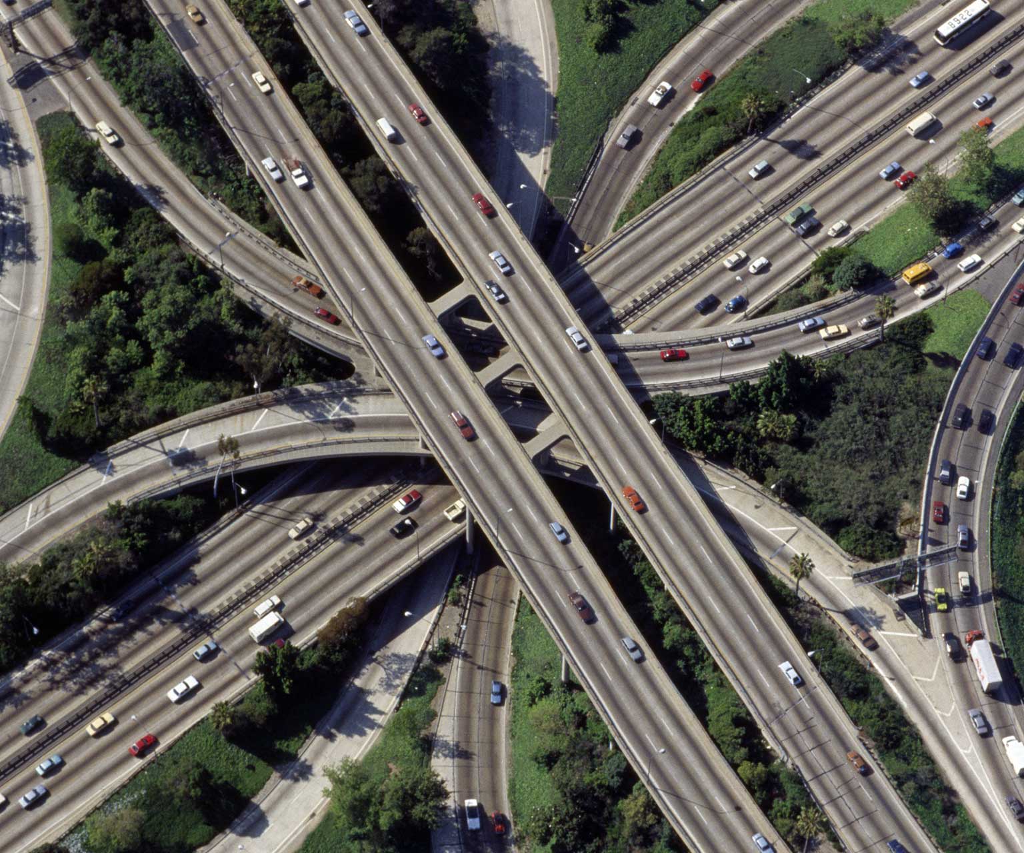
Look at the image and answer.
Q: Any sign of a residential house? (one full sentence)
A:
No, I can't see a single residential house in this photo.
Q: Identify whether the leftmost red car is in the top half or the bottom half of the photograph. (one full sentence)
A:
It is in the bottom half that the leftmost red car appears.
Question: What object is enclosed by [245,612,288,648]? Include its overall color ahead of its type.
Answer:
white truck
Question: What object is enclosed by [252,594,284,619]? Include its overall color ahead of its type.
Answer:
white car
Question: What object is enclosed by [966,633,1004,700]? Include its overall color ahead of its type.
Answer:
white truck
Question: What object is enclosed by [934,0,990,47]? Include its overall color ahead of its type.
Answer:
white bus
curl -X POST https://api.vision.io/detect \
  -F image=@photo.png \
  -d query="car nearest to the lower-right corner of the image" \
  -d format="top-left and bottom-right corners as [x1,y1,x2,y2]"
[1003,795,1023,821]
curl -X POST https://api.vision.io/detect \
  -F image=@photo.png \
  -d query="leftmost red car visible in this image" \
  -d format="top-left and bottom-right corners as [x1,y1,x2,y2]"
[127,734,157,757]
